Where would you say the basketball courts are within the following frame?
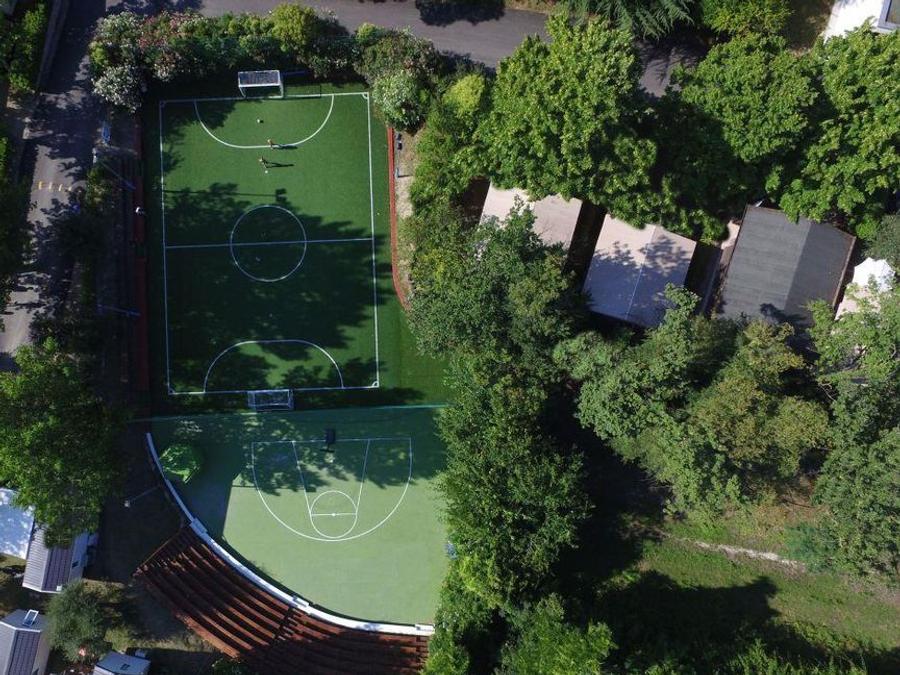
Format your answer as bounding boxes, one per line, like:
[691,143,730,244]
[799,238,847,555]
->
[147,407,461,628]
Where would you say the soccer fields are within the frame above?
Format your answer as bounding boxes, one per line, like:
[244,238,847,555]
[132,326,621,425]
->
[146,67,454,420]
